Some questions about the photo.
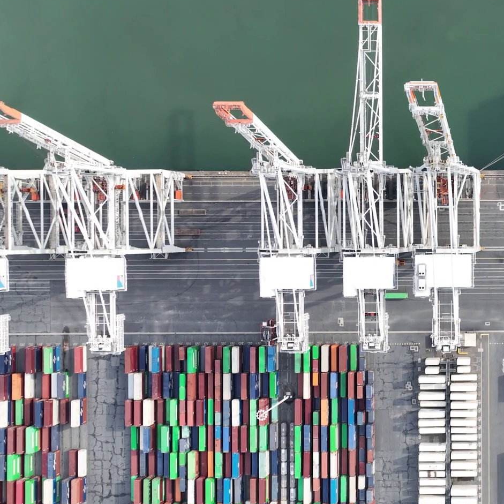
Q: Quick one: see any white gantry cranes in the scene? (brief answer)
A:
Yes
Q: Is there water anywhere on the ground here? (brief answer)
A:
Yes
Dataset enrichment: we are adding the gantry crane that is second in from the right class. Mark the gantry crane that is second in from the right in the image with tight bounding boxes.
[337,0,421,348]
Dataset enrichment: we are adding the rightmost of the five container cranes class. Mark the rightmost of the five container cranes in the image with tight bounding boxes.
[408,78,486,347]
